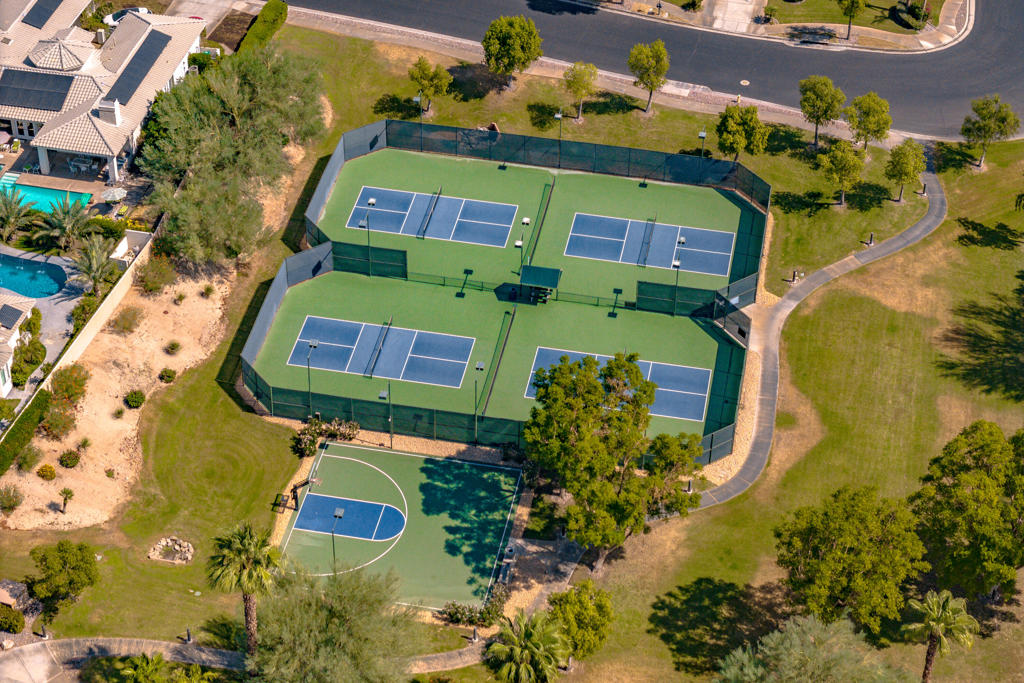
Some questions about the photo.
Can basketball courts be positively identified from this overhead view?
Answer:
Yes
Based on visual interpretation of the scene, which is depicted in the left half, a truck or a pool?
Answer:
pool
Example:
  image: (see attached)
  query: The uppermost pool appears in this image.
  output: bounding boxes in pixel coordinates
[0,169,97,218]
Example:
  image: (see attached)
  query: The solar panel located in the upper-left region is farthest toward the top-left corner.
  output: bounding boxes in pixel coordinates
[21,0,71,31]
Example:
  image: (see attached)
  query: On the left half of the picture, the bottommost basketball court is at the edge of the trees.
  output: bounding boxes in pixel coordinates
[272,440,522,621]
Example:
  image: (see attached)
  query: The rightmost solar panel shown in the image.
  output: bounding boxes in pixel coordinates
[105,29,171,105]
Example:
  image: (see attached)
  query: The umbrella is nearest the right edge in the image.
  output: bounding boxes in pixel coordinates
[100,182,127,211]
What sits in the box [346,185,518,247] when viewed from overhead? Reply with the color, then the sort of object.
blue sports court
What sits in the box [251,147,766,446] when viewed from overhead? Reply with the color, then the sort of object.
green sports court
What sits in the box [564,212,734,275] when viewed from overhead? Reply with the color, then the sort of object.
blue sports court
